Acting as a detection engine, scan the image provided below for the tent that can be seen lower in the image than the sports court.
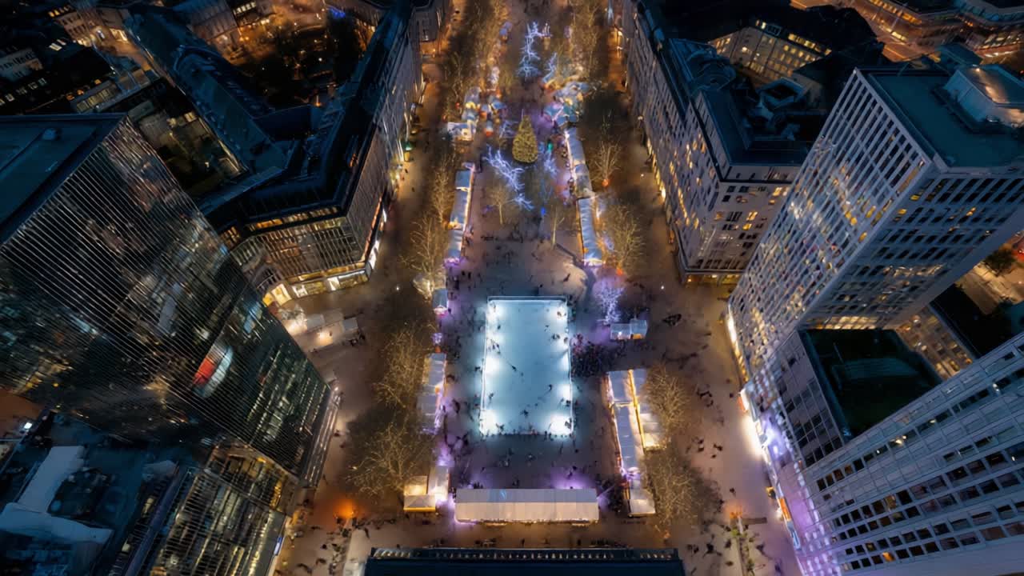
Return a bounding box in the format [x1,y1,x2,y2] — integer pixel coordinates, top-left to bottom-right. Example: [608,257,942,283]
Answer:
[454,484,600,527]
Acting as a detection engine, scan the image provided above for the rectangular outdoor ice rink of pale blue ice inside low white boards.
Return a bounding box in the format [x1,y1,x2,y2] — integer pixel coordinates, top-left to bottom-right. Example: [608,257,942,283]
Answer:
[474,292,579,440]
